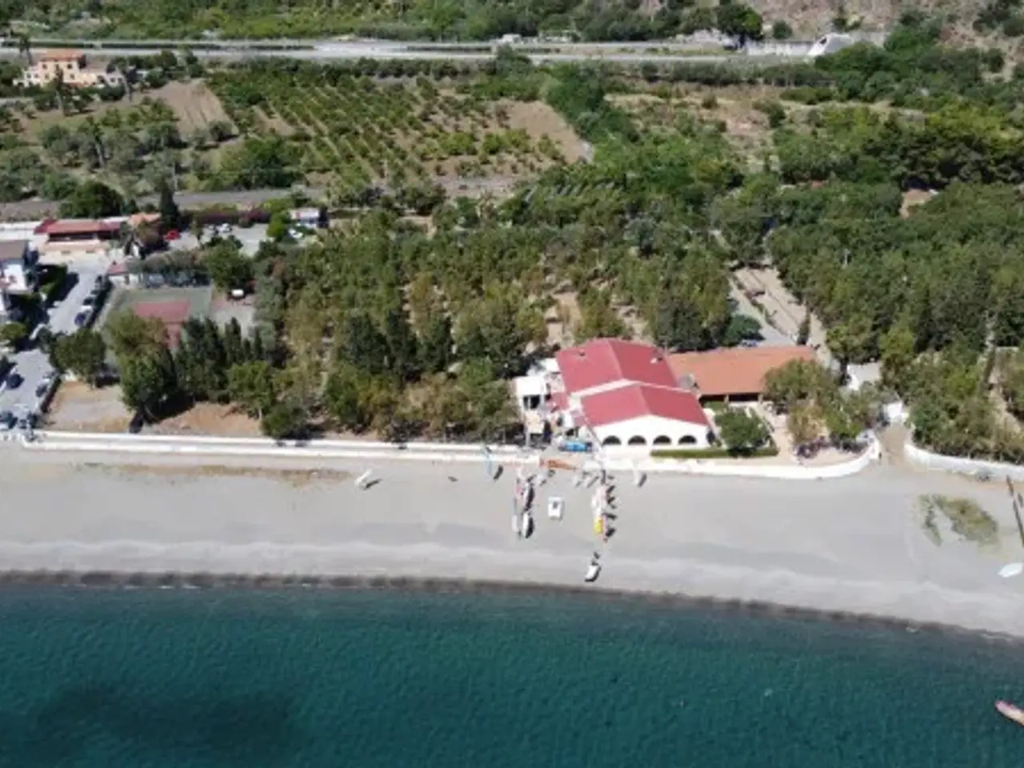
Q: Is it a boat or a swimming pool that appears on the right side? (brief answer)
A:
boat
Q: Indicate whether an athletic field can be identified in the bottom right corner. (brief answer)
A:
No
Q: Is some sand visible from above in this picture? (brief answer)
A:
Yes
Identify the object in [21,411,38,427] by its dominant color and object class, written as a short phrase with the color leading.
gray car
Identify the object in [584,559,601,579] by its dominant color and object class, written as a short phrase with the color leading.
white boat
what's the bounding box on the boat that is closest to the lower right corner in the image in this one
[994,701,1024,726]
